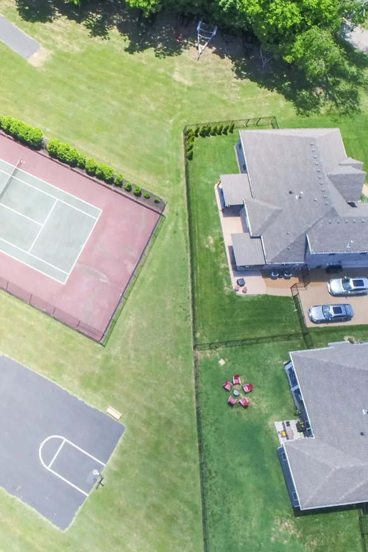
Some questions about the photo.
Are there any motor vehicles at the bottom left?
No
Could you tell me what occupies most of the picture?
grass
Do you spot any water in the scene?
No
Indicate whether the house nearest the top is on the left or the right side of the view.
right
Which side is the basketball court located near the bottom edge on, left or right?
left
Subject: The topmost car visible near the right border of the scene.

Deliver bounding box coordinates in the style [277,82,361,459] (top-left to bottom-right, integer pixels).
[326,276,368,296]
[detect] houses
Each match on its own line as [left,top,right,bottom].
[278,340,368,511]
[215,128,368,272]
